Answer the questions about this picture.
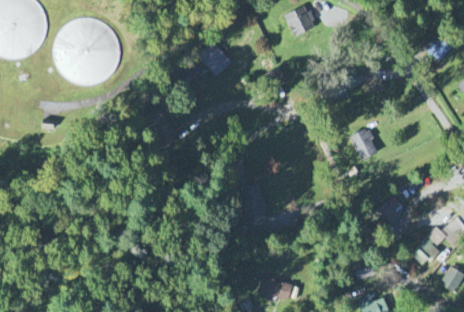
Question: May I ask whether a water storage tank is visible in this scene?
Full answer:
Yes, you can see a water storage tank in this photo.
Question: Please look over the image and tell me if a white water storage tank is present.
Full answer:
Yes, there's a white water storage tank here.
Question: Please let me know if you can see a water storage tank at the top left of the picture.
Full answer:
Yes, there is a water storage tank at the top left of the picture.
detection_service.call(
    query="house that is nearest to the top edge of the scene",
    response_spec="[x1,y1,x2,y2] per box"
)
[285,6,316,37]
